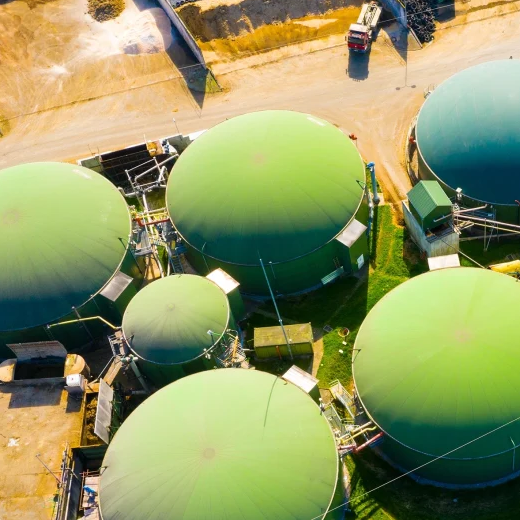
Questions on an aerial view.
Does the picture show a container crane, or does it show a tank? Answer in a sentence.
Of the two, only a tank appears.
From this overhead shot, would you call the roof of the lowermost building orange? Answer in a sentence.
No, the color of the roof of the lowermost building is white.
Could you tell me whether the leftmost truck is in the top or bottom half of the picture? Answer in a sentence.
The leftmost truck is in the top half of the image.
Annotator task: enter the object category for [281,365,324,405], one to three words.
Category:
building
